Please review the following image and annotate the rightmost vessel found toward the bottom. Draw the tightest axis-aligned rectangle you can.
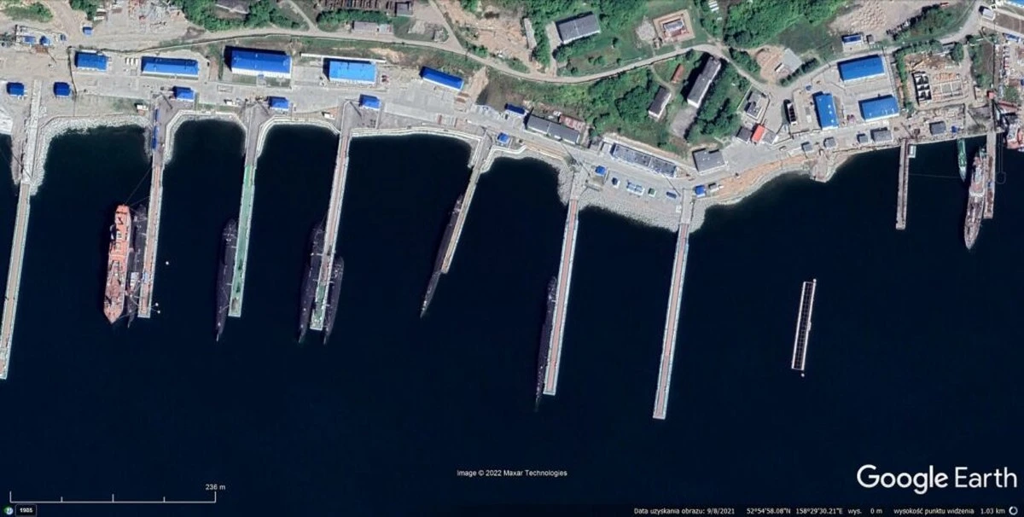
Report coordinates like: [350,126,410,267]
[535,276,557,412]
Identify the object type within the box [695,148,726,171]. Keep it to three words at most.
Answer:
building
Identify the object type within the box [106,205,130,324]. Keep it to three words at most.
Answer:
ship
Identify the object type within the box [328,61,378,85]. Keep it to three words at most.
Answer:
building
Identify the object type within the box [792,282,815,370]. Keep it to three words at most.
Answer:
pier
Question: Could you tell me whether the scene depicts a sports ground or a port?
port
